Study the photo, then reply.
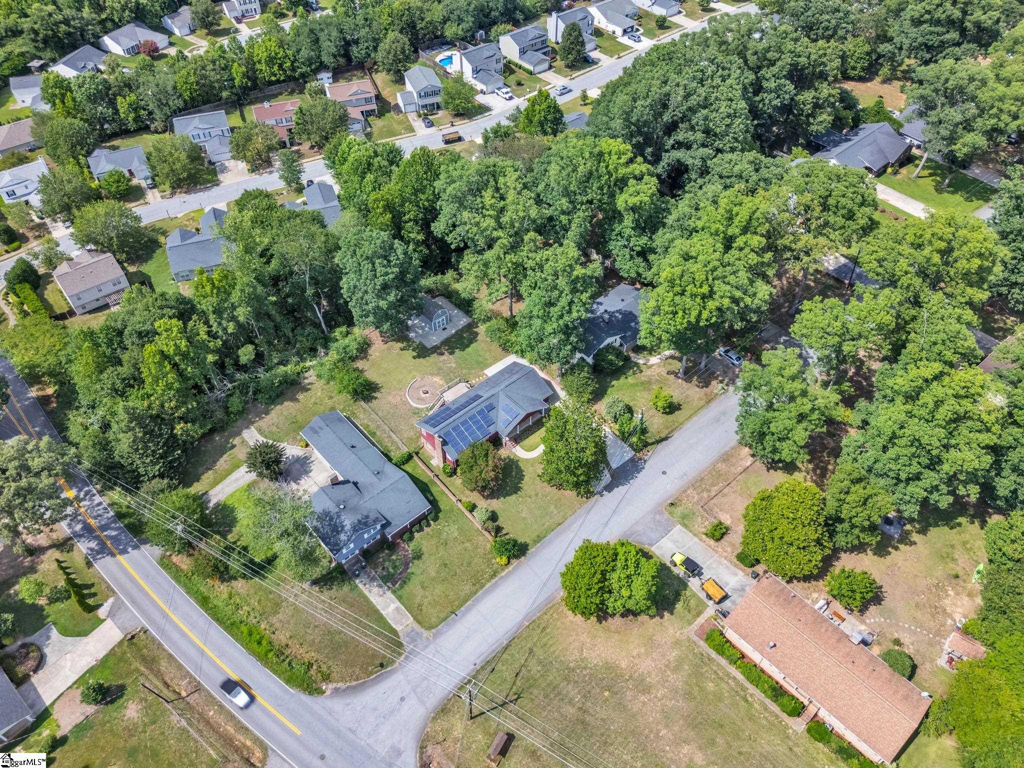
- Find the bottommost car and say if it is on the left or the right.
left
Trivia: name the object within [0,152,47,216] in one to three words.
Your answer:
house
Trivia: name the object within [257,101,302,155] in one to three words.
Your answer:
house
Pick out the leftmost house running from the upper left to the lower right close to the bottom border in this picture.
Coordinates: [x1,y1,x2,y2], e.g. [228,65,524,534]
[720,573,931,766]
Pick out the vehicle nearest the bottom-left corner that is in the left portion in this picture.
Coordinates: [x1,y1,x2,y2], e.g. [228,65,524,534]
[218,674,252,709]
